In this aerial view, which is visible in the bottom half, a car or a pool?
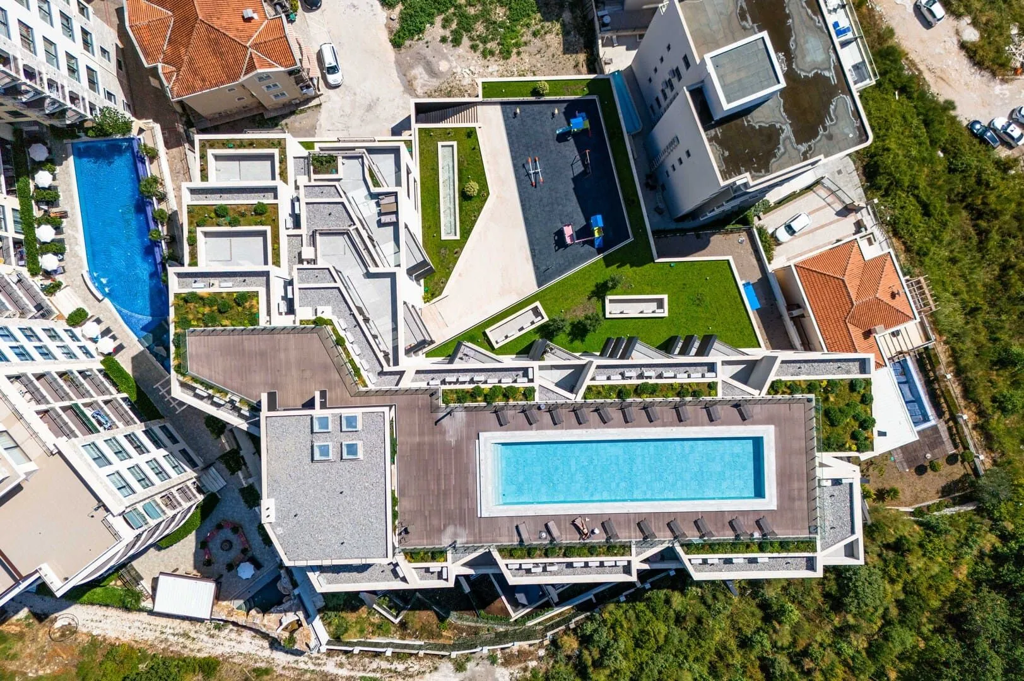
pool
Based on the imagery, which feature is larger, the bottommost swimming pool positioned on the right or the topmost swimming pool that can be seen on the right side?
the bottommost swimming pool positioned on the right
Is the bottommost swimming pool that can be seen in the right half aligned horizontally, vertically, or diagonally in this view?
horizontally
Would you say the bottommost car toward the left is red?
No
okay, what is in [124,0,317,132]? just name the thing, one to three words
house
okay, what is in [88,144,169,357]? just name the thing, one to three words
swimming pool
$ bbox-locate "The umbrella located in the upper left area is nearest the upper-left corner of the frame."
[30,142,56,162]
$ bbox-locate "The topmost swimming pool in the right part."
[614,74,640,137]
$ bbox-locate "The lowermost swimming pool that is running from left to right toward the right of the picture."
[510,437,759,501]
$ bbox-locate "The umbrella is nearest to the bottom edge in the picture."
[237,559,257,579]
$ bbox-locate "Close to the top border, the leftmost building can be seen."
[0,0,128,143]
